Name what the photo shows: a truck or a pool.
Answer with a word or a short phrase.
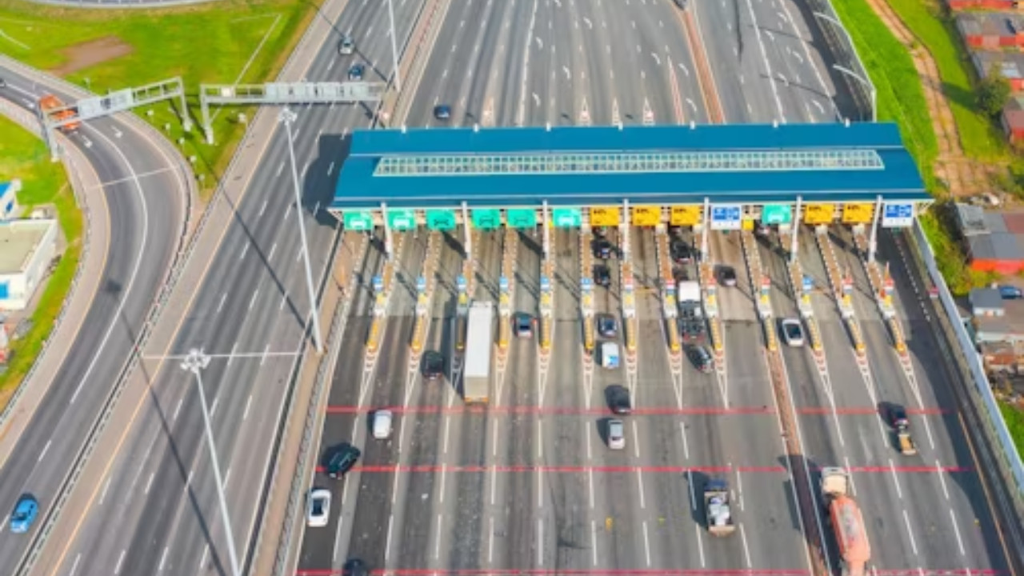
truck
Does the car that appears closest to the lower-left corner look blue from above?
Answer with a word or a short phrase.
Yes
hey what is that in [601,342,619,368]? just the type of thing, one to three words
vehicle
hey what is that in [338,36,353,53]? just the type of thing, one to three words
car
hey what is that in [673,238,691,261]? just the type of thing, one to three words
car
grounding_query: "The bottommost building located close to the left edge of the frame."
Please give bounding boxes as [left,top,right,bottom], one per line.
[0,214,65,307]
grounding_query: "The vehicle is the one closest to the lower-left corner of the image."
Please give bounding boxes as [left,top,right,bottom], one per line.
[8,493,42,532]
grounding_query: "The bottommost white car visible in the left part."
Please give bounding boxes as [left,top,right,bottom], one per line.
[307,491,331,528]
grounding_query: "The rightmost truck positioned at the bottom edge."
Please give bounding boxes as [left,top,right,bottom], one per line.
[824,455,874,576]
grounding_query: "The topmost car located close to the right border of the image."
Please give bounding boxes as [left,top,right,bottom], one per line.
[1001,282,1024,303]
